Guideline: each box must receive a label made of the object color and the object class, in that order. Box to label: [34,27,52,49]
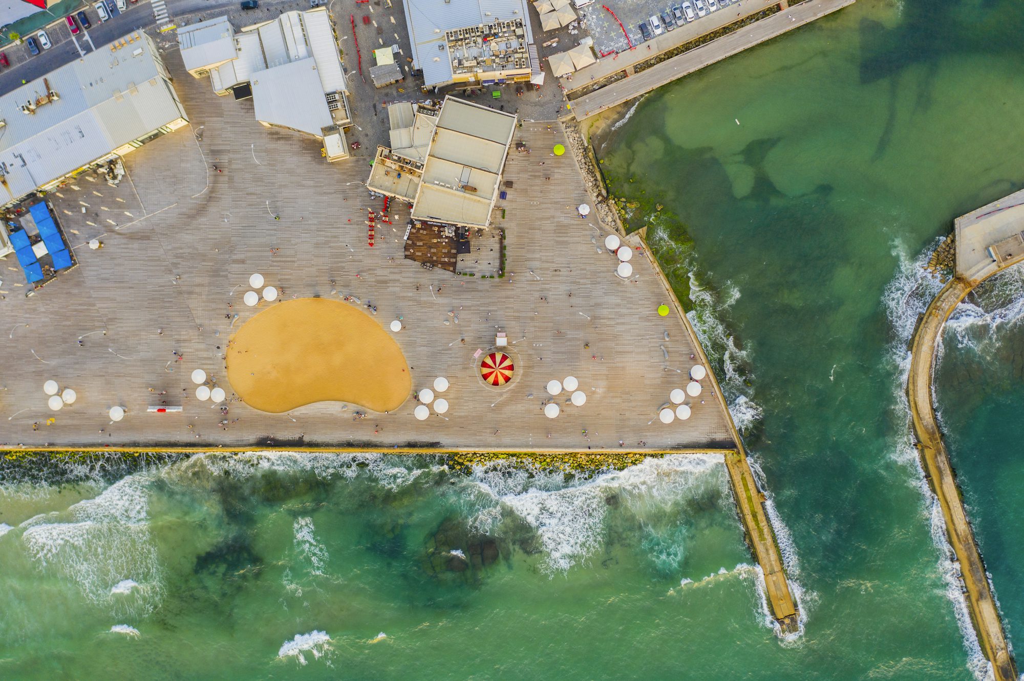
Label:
white car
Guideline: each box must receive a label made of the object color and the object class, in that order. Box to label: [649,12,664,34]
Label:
white car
